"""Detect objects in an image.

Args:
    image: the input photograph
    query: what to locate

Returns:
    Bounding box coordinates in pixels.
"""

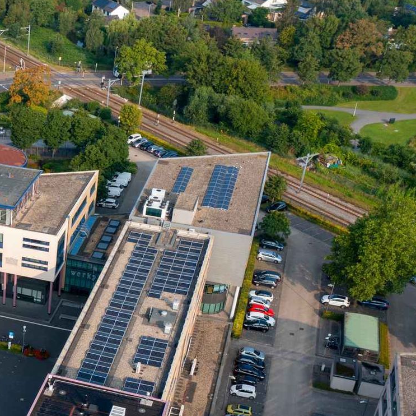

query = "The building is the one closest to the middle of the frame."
[128,150,271,314]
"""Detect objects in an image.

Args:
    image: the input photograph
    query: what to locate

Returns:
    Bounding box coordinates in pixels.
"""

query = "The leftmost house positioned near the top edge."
[82,0,125,21]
